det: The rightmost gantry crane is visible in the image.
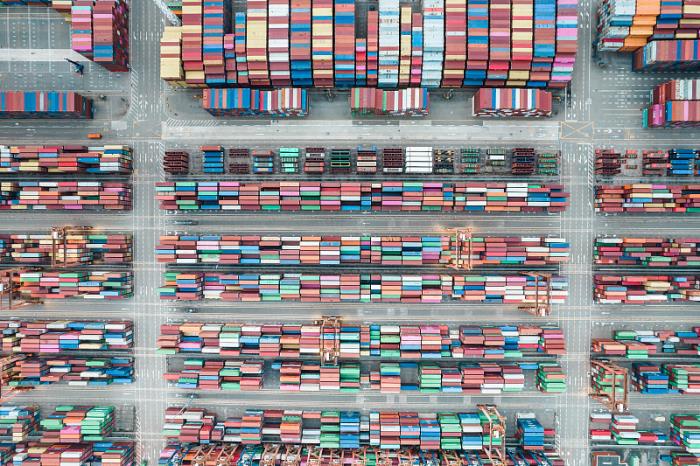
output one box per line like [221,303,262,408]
[587,355,623,409]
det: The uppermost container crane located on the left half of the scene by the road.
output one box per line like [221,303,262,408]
[51,223,88,270]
